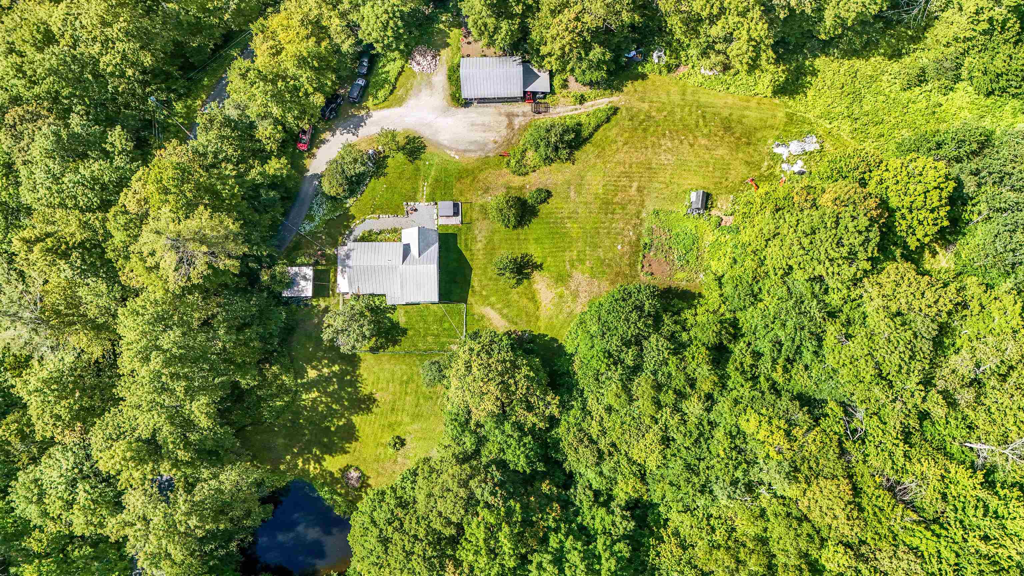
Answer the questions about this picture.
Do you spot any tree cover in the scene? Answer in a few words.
Yes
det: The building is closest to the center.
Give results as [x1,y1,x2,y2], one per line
[337,226,440,304]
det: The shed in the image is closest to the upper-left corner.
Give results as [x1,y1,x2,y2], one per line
[282,267,317,296]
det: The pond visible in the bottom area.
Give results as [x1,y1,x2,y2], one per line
[241,481,356,576]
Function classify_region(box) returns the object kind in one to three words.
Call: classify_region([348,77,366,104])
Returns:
car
